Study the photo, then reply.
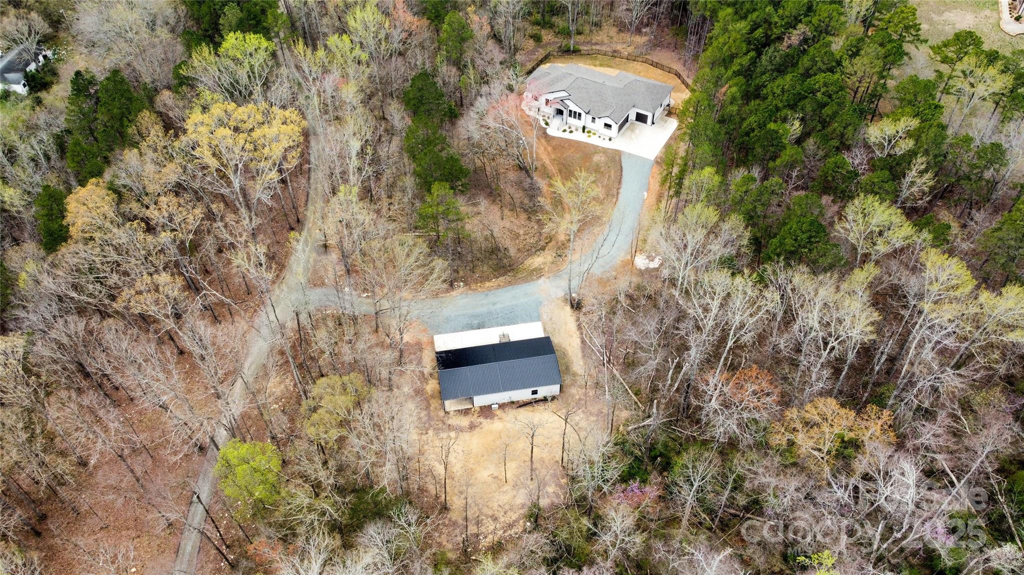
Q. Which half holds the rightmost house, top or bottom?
top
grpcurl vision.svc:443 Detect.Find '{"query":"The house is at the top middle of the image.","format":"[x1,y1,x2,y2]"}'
[525,62,677,137]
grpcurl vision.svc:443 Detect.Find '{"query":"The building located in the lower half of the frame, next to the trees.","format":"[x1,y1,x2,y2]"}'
[433,322,564,412]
